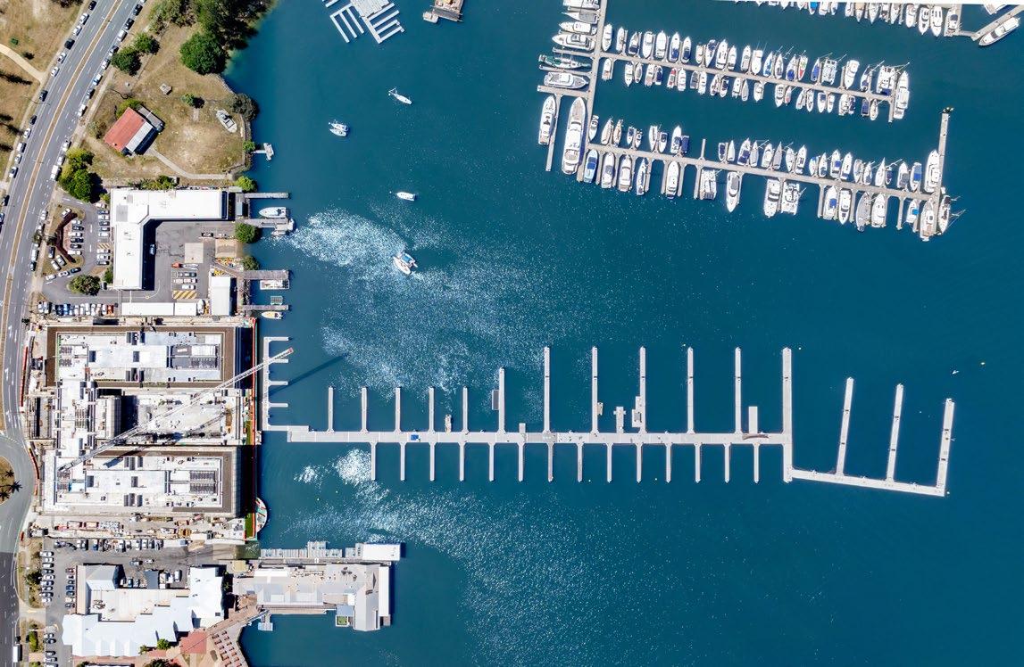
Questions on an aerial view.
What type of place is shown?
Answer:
port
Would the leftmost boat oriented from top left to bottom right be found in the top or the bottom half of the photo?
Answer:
top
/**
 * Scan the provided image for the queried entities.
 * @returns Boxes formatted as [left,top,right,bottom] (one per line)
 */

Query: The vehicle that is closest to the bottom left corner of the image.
[12,636,24,665]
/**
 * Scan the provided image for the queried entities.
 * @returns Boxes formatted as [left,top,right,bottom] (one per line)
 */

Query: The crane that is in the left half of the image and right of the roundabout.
[56,347,293,473]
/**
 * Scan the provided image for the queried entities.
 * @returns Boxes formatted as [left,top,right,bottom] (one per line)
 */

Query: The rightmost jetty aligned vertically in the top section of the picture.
[537,0,606,182]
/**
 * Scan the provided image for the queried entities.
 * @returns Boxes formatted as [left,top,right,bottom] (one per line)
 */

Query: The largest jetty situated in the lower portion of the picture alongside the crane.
[268,347,913,485]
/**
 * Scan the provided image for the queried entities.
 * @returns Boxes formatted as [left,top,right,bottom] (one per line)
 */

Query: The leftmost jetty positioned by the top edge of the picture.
[325,0,403,44]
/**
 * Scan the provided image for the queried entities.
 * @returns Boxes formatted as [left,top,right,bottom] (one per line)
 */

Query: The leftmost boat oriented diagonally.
[219,109,239,133]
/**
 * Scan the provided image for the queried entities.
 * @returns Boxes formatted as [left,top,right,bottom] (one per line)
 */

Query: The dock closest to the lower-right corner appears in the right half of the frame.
[790,378,954,496]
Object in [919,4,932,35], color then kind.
white boat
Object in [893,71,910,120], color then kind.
white boat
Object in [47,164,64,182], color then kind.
white vehicle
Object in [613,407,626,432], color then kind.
white ship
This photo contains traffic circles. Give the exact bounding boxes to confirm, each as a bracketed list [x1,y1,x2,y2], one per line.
[0,432,34,553]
